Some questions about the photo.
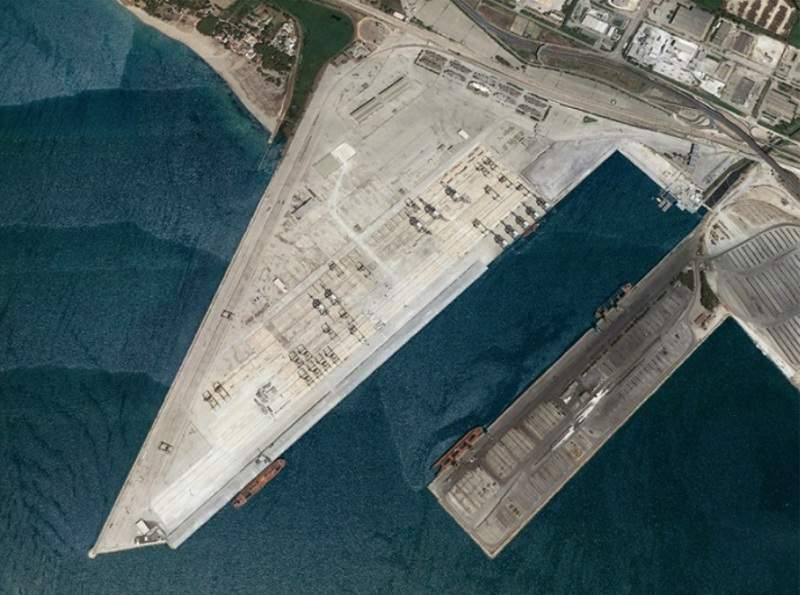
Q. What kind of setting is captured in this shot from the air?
port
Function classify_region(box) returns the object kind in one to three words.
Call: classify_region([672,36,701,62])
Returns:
building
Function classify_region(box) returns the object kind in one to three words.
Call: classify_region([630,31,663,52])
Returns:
building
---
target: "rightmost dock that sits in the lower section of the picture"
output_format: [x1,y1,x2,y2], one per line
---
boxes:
[427,217,737,558]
